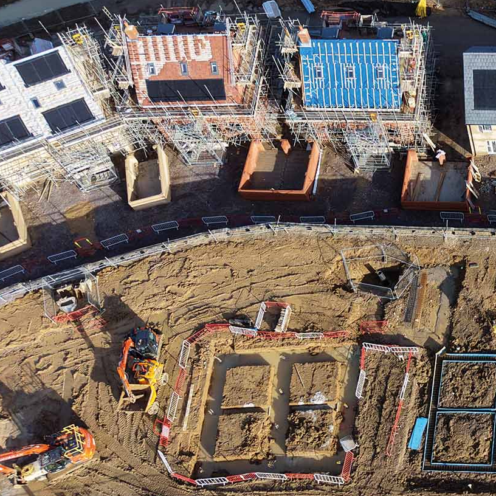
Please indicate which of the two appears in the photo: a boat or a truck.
truck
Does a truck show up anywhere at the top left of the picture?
No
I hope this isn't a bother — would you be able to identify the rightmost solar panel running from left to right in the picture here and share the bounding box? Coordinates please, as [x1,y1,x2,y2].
[152,78,221,99]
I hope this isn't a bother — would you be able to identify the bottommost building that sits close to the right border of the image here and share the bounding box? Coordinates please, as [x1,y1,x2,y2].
[400,149,488,218]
